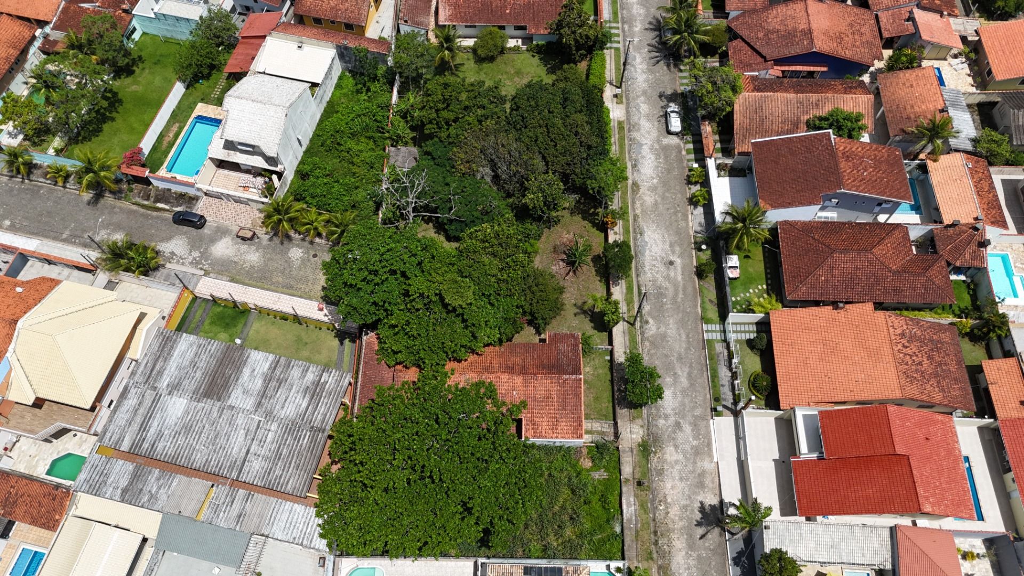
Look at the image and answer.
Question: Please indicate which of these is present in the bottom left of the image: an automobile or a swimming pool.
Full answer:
Visible in the bottom left of the image is a swimming pool.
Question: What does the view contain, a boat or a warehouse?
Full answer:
There is a warehouse in the scene.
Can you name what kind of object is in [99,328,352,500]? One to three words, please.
warehouse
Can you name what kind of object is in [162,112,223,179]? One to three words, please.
swimming pool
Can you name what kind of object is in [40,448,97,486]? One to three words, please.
swimming pool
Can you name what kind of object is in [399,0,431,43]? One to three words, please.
house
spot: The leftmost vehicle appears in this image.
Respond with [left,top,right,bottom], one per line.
[168,209,210,233]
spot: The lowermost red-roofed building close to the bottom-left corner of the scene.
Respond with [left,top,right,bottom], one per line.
[0,472,82,532]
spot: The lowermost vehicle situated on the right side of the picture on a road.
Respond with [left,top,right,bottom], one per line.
[664,109,683,138]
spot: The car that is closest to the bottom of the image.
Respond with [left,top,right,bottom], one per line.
[724,251,742,283]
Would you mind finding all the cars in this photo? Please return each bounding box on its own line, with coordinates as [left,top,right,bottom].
[168,209,210,233]
[664,109,683,138]
[659,22,675,47]
[724,251,742,283]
